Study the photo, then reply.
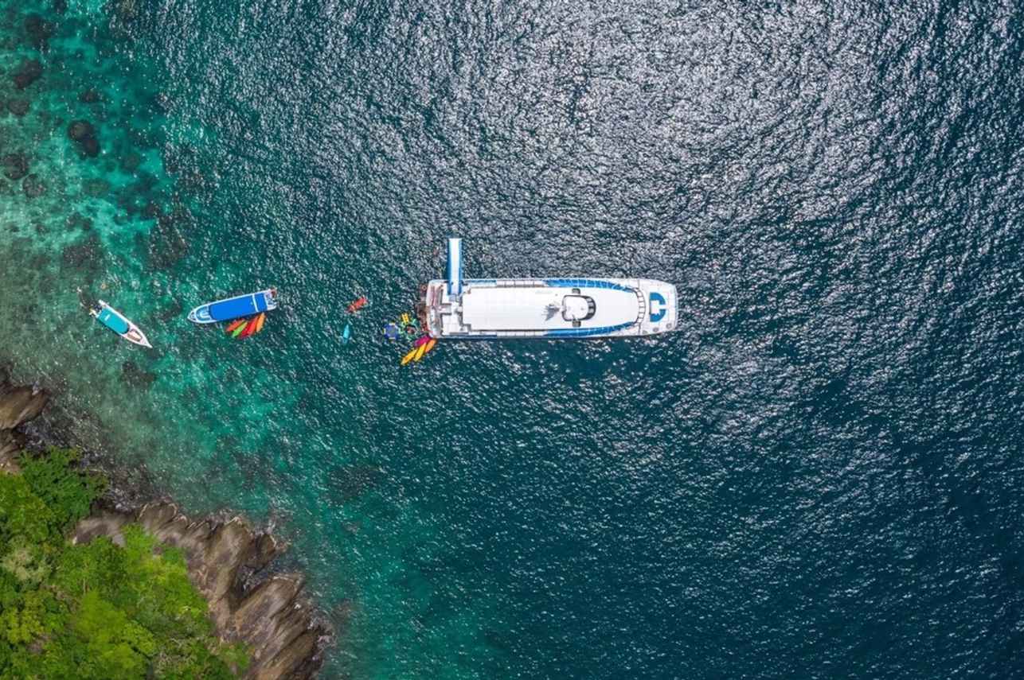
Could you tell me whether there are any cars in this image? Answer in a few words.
No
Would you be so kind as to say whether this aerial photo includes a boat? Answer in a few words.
Yes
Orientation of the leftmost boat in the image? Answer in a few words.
at an angle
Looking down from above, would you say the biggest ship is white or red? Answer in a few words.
white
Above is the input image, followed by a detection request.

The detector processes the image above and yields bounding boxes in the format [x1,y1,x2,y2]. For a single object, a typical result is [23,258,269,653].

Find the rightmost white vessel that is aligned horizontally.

[418,278,679,338]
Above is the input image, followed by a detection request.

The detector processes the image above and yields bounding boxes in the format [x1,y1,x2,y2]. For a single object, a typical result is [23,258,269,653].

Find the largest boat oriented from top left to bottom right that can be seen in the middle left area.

[91,297,155,349]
